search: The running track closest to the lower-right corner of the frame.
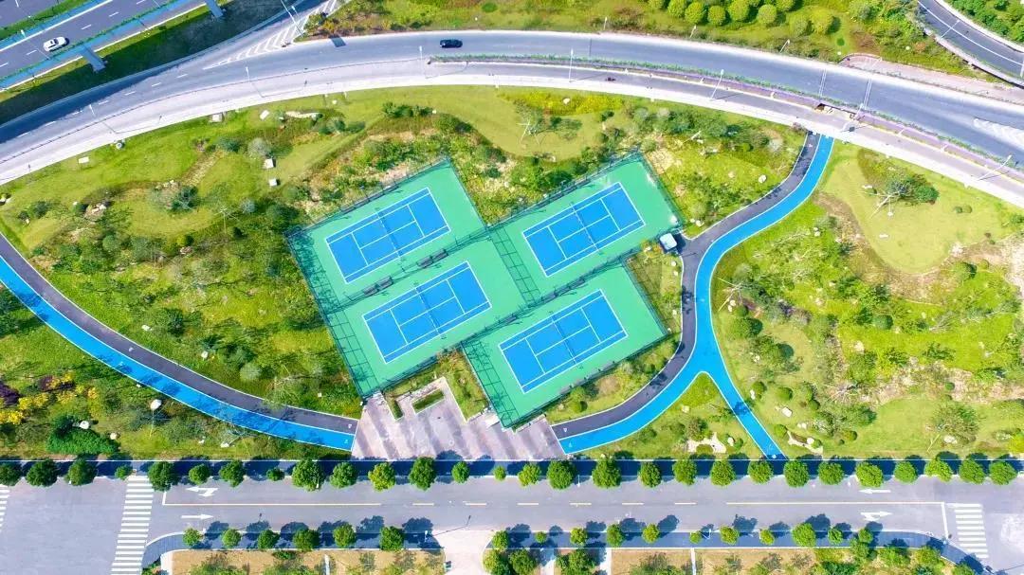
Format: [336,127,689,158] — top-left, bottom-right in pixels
[551,131,834,460]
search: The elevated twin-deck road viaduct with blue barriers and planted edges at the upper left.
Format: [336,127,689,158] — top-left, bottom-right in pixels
[0,0,231,85]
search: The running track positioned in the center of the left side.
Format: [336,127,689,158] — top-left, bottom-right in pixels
[0,234,358,451]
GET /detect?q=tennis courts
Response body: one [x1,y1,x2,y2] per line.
[289,159,485,313]
[462,258,666,426]
[327,229,528,397]
[488,149,683,305]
